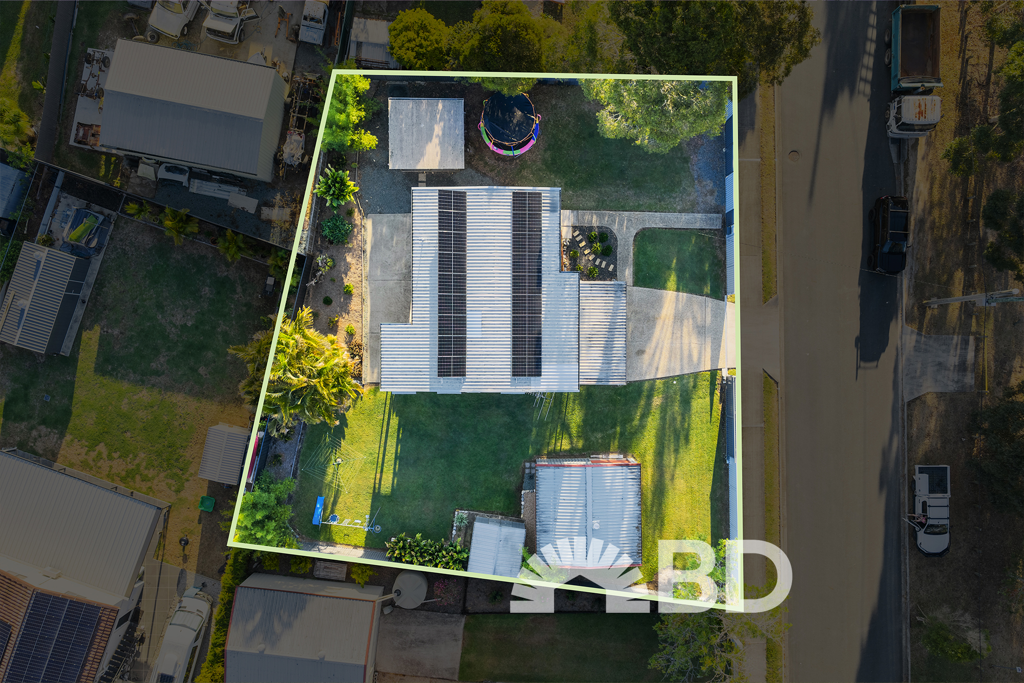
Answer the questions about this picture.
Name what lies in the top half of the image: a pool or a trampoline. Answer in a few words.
trampoline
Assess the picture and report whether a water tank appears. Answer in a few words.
Yes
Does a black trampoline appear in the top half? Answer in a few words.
Yes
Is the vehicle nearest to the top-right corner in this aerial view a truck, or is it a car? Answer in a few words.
truck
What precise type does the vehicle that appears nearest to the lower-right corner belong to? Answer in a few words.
truck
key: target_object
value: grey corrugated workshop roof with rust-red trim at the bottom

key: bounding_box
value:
[225,572,382,683]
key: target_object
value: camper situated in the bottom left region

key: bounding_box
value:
[141,585,210,683]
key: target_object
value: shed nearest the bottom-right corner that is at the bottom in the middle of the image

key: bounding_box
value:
[535,458,643,569]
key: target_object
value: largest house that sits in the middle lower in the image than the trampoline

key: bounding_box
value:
[375,184,581,411]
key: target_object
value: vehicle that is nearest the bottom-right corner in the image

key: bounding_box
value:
[902,464,956,555]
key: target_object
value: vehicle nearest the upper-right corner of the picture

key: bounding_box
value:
[874,7,943,138]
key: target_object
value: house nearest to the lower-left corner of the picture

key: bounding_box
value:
[0,453,179,683]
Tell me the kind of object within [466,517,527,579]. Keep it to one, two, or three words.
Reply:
shed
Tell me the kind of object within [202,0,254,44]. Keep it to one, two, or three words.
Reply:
car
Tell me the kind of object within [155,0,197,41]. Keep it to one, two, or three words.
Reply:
truck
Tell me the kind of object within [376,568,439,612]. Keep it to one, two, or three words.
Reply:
water tank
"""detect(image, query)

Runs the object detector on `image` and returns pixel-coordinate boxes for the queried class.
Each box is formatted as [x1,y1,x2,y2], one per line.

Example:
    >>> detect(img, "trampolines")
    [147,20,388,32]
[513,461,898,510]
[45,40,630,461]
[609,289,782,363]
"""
[479,91,542,165]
